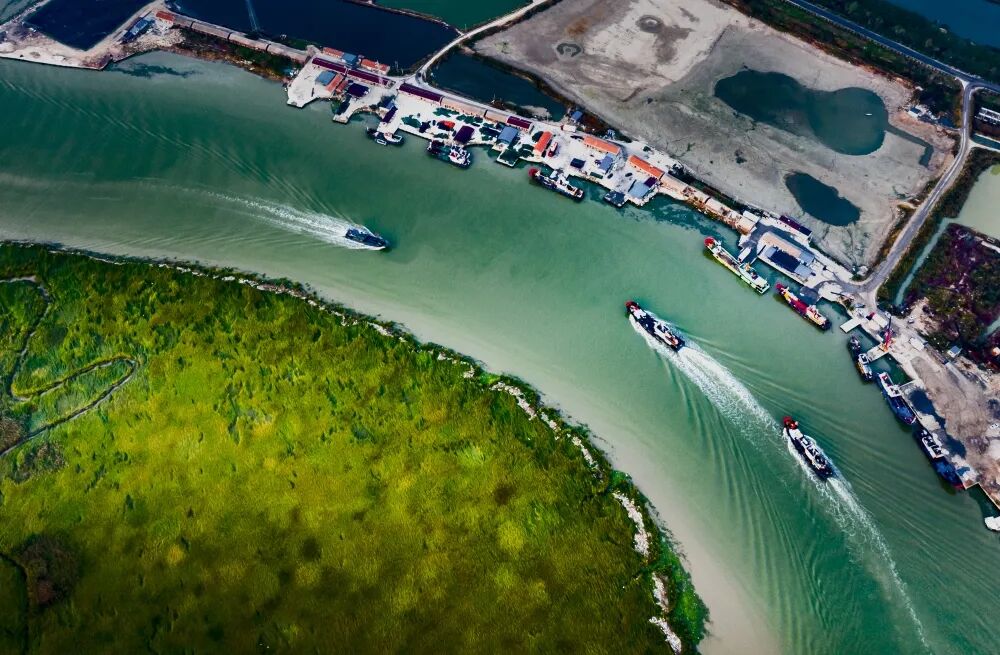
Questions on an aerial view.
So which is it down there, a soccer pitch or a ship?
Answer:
ship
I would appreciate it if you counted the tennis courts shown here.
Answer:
zero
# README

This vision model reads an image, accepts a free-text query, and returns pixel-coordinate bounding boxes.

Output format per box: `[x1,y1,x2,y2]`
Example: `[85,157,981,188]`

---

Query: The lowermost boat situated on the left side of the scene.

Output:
[343,227,390,248]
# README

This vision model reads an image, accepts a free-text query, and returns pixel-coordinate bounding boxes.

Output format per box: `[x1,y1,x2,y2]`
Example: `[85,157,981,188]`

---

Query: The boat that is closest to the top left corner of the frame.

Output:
[365,124,406,147]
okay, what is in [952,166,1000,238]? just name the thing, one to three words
pond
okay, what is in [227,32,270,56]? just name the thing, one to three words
house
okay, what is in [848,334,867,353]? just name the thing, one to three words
boat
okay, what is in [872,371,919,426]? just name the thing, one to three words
vessel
